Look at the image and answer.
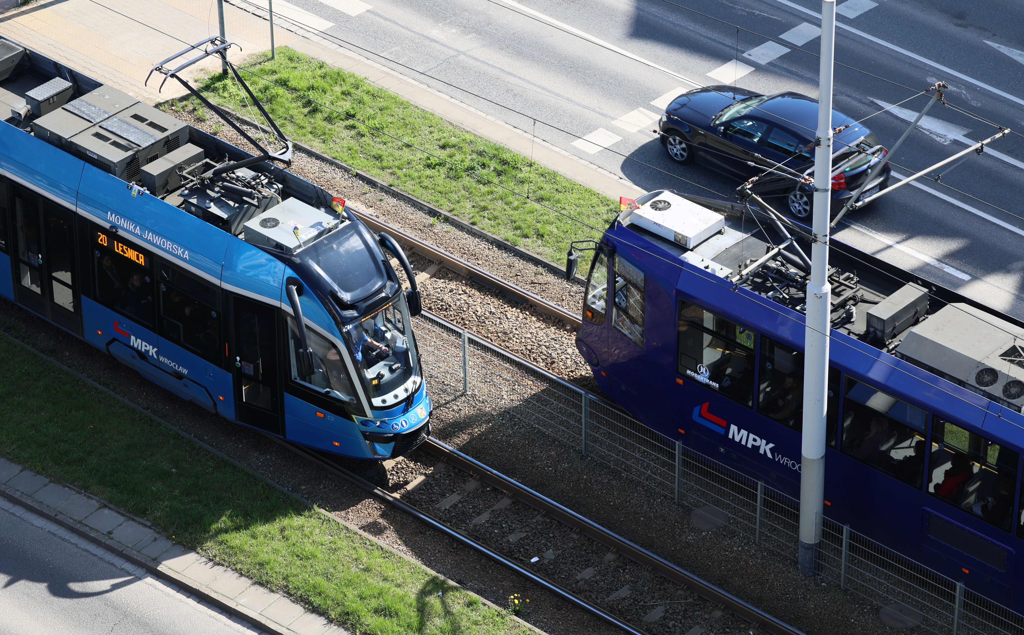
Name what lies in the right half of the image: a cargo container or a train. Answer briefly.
train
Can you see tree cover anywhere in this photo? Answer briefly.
No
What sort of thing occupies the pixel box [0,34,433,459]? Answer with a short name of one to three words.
train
